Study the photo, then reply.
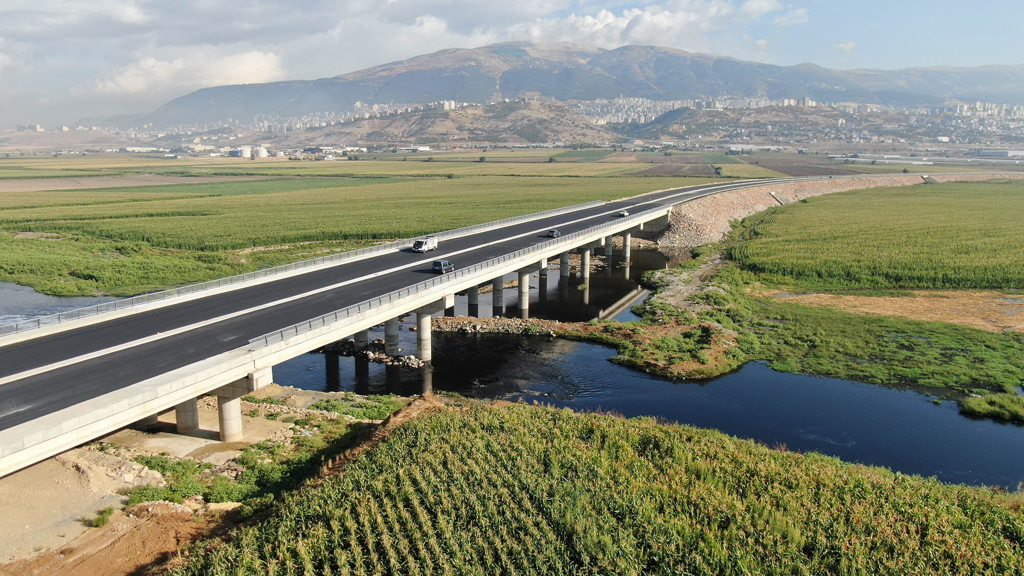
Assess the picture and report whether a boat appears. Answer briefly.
No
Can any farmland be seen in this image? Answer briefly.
Yes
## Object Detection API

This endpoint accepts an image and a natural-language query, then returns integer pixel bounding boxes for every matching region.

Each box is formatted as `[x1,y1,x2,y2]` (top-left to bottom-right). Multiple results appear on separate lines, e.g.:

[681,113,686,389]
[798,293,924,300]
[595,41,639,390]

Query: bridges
[0,200,675,476]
